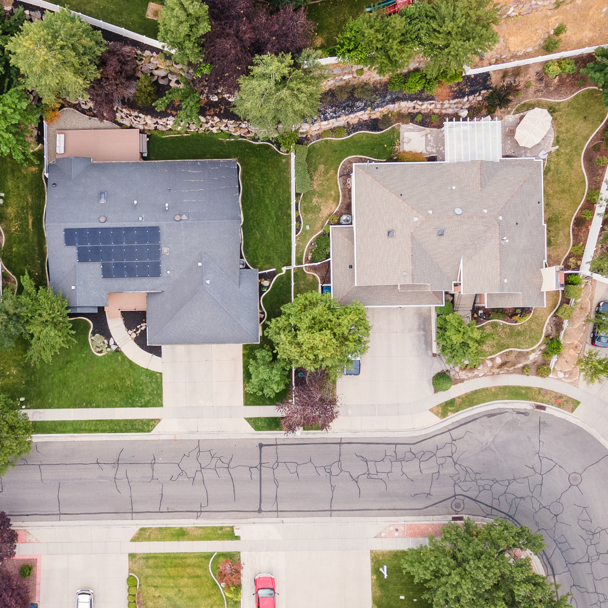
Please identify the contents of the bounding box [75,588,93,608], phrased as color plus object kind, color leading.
white car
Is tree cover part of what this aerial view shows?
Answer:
Yes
